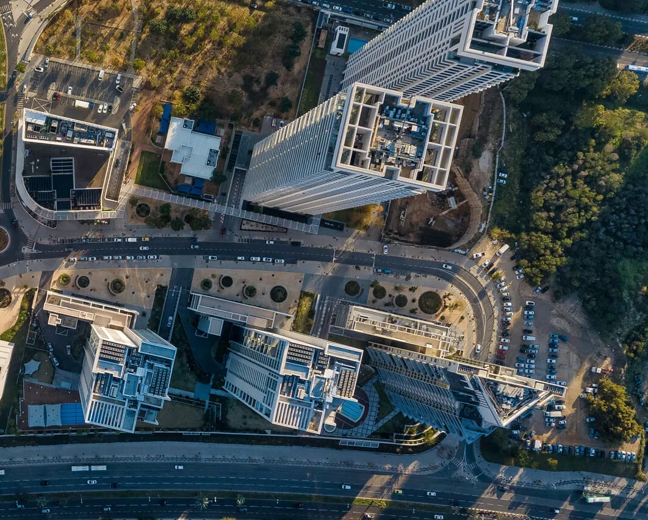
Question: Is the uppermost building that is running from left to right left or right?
right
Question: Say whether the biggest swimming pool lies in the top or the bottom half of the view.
bottom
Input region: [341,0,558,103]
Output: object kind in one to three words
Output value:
building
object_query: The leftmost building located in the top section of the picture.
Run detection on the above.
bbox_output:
[16,108,124,219]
